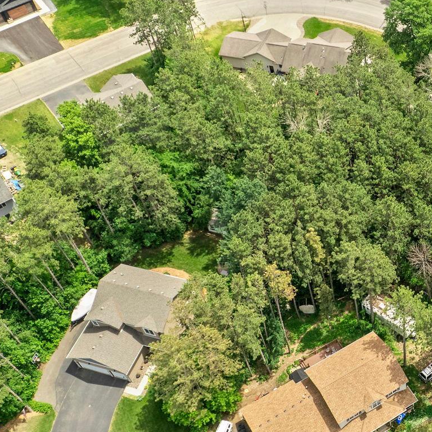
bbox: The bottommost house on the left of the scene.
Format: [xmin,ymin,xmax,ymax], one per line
[67,267,176,380]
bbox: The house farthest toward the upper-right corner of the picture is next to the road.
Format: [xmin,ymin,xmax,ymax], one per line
[224,28,354,87]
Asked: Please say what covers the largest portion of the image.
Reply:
trees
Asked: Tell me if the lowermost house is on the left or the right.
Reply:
right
